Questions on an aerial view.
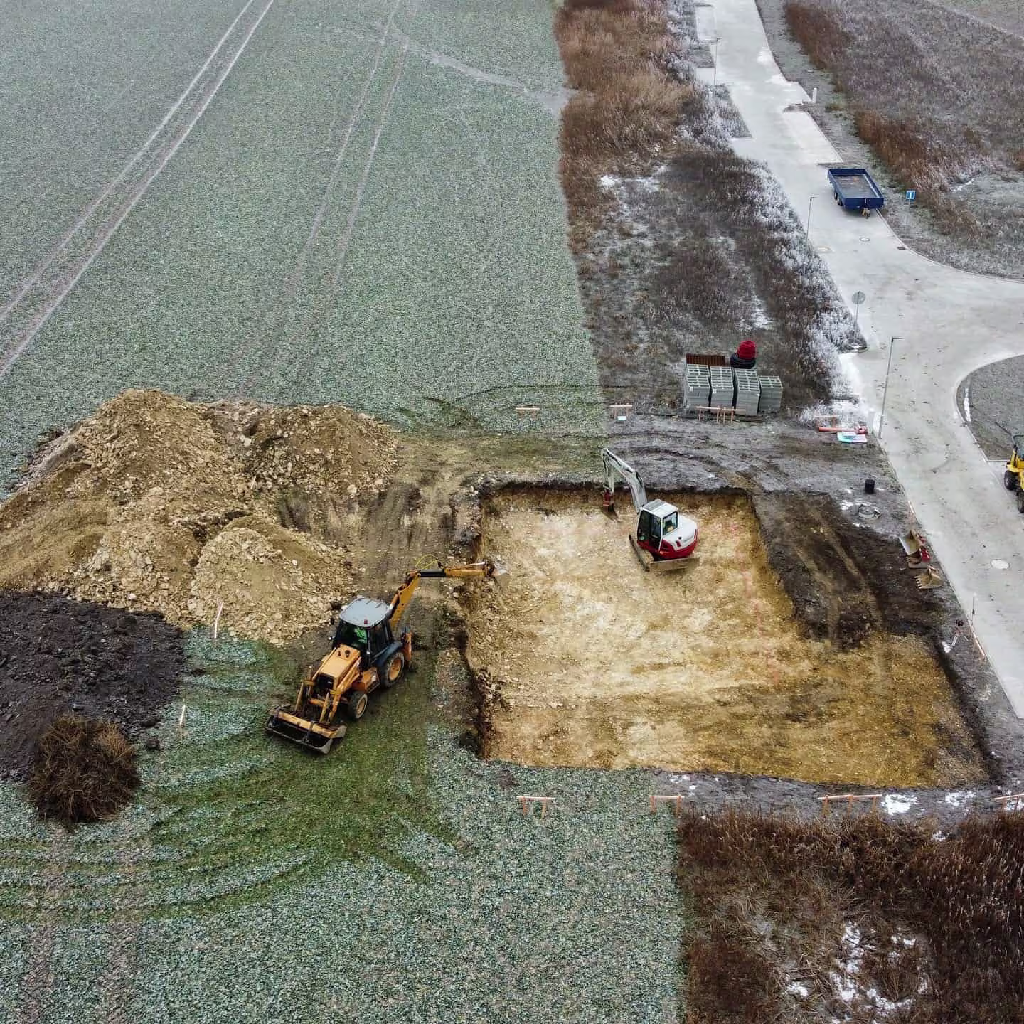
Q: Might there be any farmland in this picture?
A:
Yes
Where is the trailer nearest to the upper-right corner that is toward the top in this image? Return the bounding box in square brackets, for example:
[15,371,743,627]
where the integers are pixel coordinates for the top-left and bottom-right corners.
[828,170,884,221]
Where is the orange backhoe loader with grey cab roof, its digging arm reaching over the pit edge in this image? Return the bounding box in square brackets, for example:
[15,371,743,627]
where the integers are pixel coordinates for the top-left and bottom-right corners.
[274,555,510,750]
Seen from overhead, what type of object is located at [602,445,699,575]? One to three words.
work vehicle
